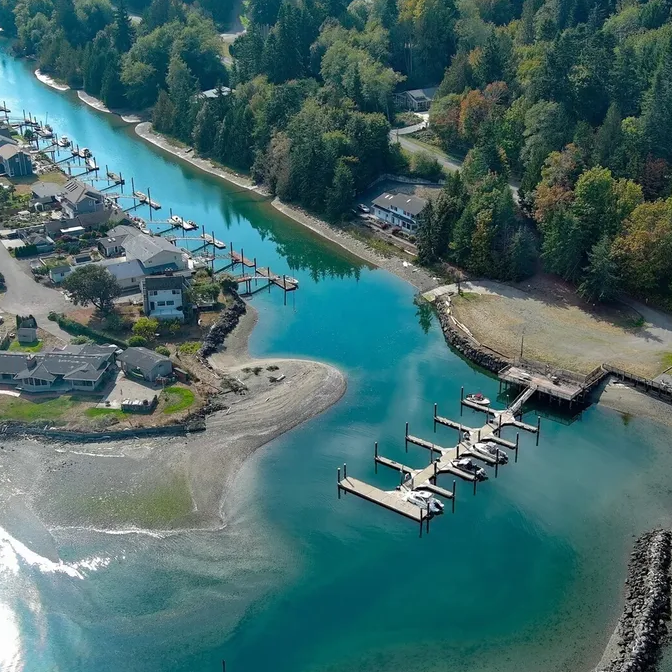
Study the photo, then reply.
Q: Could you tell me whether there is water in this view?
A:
Yes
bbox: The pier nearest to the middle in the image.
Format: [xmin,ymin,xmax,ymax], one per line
[235,267,299,294]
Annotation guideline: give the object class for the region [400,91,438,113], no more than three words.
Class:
house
